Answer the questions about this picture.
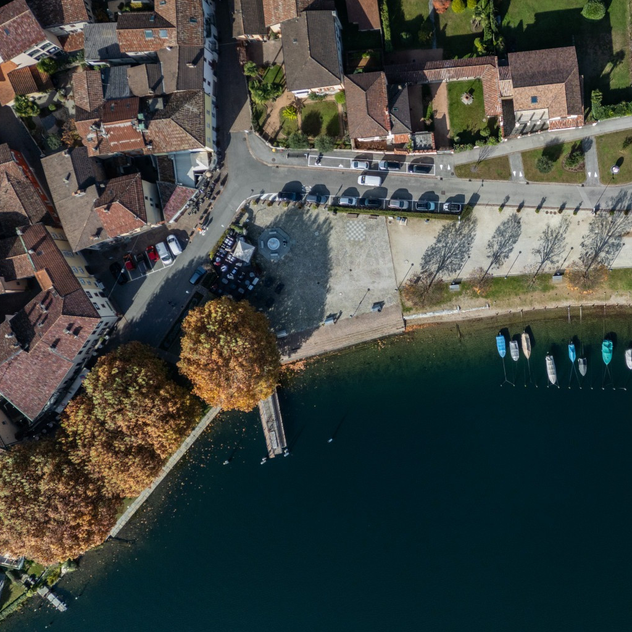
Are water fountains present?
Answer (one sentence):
Yes, the photo shows a water fountain.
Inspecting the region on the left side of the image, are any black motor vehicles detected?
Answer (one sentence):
Yes, the scene does show a black motor vehicle on the left side of the image.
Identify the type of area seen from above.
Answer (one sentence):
The picture captures a residential area.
